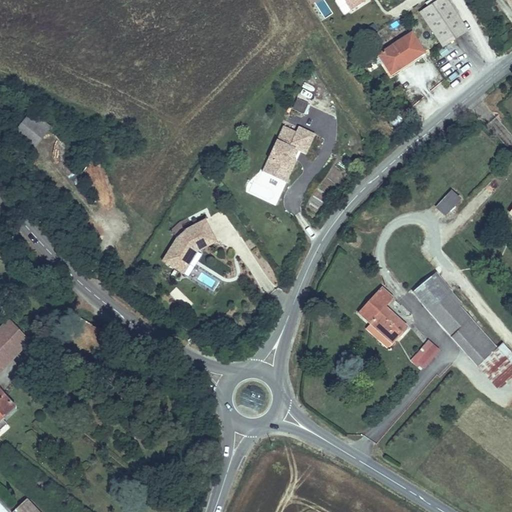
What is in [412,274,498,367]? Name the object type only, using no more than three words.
barn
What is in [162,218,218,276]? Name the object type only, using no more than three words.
house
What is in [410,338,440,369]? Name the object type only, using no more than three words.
shed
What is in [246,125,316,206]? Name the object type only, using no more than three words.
house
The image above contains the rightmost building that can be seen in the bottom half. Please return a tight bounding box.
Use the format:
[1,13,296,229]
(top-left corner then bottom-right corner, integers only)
[479,344,512,389]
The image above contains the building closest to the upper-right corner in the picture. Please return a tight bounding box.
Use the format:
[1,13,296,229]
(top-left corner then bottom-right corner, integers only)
[420,0,468,48]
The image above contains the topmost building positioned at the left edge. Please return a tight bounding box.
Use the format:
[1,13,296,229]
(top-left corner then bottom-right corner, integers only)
[19,112,52,148]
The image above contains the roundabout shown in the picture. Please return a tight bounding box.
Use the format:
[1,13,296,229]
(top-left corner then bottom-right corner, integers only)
[208,350,300,449]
